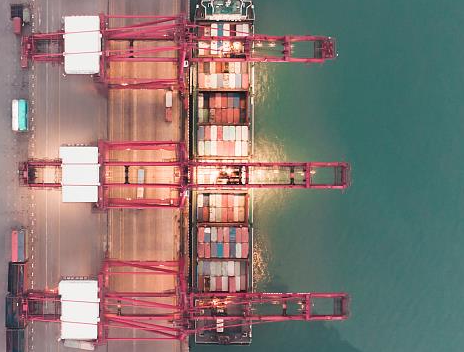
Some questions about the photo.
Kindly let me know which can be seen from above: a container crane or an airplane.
container crane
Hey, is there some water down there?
Yes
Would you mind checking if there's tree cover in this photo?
No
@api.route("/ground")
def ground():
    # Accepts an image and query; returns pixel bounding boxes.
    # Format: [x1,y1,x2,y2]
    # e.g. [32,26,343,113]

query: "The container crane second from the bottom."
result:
[20,140,353,210]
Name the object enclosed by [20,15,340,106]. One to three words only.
container crane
